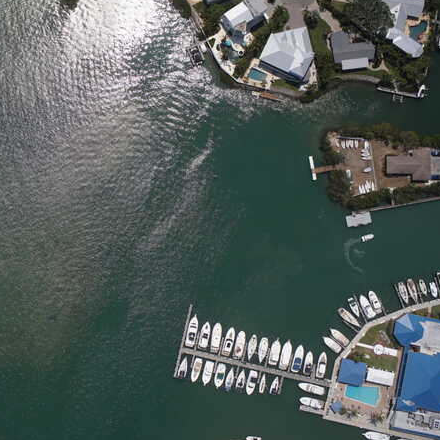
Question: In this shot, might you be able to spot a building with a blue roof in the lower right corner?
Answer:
Yes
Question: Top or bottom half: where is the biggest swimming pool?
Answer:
bottom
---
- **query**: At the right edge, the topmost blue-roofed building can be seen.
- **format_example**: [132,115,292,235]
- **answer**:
[390,313,423,346]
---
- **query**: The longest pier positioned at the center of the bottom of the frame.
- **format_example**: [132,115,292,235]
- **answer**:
[173,304,331,395]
